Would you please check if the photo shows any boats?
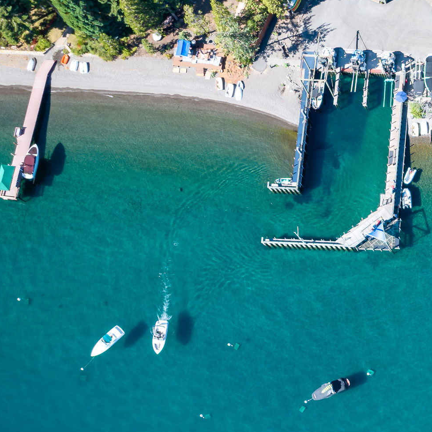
Yes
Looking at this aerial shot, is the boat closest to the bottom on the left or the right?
right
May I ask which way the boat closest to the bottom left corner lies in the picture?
at an angle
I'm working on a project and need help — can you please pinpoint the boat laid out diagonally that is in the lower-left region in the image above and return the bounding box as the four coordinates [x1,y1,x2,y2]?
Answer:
[90,325,125,356]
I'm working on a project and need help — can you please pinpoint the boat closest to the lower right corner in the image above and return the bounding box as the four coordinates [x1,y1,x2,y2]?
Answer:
[312,379,350,402]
